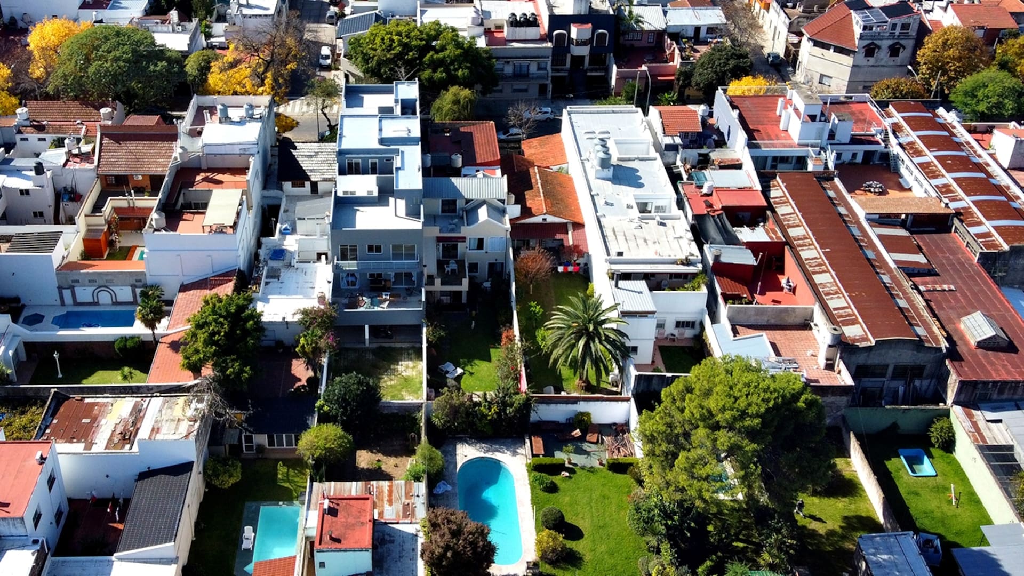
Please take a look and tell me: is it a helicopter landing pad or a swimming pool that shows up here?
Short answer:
swimming pool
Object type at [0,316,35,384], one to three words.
house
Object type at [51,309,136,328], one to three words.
swimming pool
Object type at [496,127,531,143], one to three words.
car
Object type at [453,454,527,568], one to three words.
swimming pool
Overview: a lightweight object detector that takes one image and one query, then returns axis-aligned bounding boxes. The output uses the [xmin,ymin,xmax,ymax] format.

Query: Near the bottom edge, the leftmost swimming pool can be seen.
[244,505,300,576]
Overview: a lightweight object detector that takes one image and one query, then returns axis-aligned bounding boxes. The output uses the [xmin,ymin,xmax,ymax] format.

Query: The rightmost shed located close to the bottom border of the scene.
[852,531,932,576]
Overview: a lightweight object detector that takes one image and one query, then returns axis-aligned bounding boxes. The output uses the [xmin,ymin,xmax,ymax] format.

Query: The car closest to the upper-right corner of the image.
[768,48,783,65]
